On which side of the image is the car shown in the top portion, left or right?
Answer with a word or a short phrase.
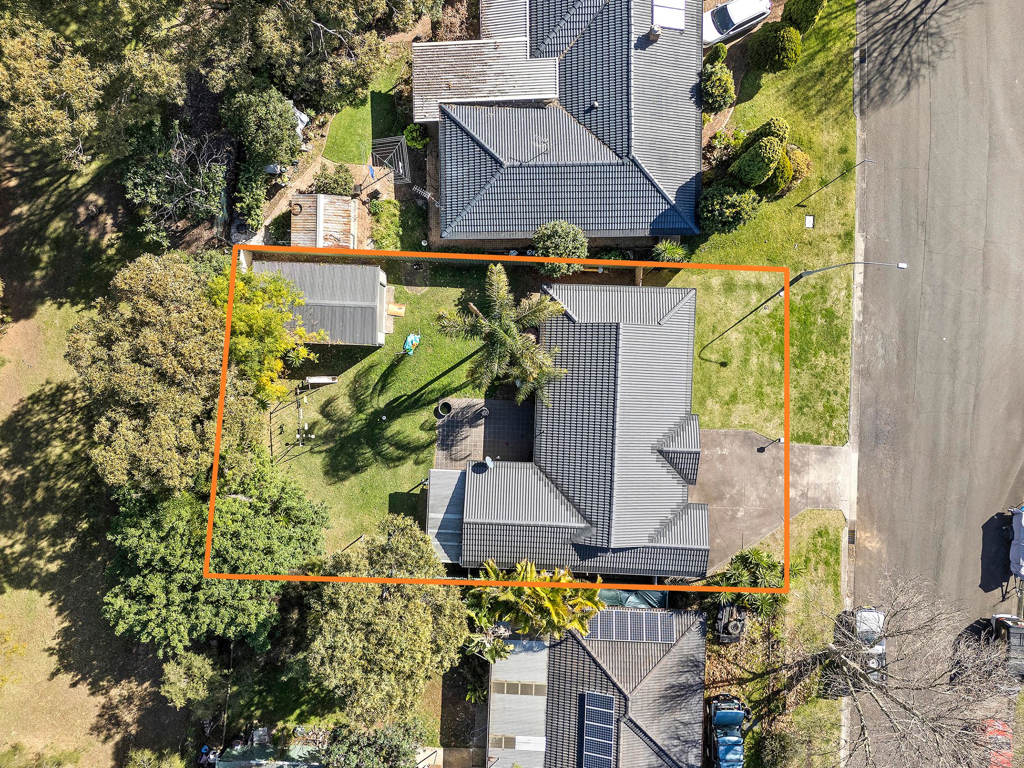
right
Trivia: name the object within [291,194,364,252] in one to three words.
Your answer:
shed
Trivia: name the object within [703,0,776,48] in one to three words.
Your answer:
car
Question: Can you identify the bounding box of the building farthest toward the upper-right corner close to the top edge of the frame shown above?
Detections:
[412,0,703,241]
